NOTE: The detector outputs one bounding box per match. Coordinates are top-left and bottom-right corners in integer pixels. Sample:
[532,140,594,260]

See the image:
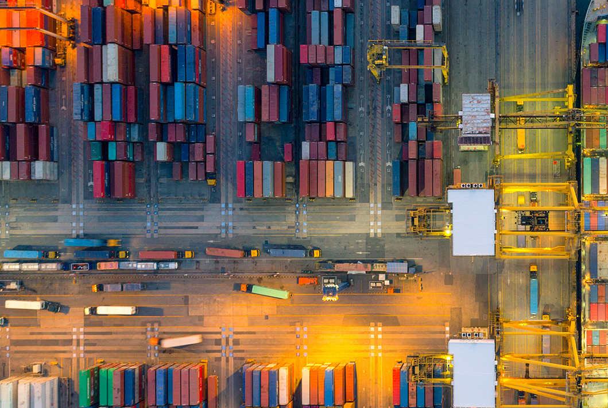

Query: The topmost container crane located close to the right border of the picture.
[415,79,608,175]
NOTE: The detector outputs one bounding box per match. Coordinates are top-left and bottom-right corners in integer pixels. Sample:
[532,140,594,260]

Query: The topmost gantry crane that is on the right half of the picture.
[366,41,448,86]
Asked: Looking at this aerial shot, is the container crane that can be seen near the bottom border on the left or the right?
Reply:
right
